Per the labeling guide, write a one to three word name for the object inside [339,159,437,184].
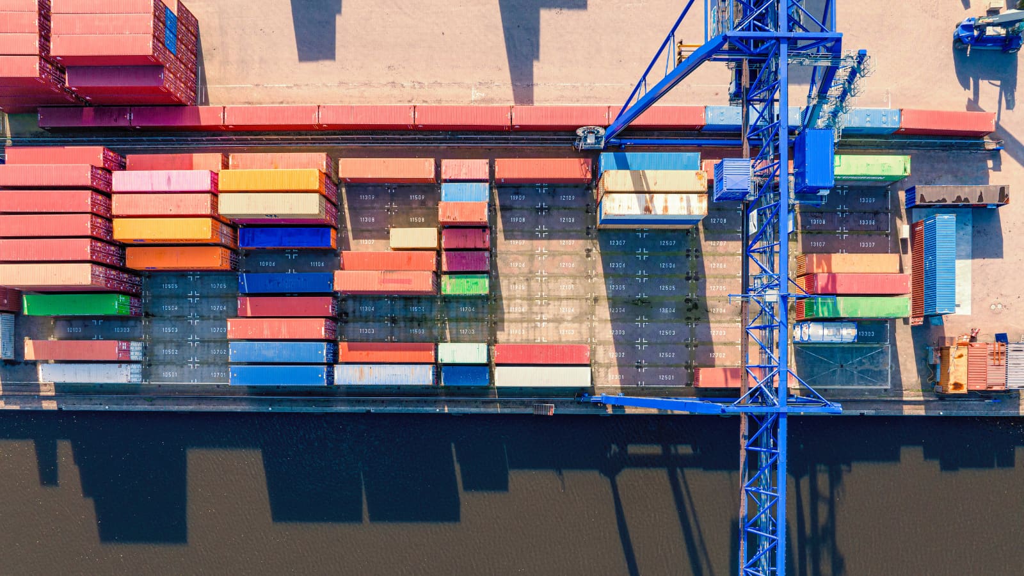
shipping container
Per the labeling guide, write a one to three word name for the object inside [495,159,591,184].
shipping container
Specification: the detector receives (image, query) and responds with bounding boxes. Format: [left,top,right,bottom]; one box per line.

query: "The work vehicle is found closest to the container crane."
[950,5,1024,60]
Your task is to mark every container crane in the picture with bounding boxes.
[572,0,893,576]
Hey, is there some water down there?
Yes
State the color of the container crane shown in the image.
blue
